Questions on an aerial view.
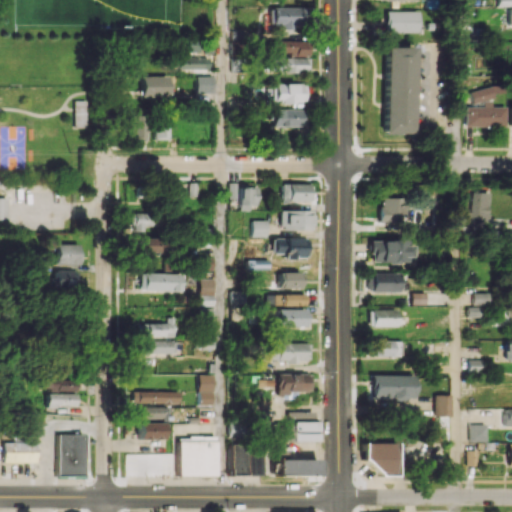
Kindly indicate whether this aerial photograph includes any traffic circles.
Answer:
No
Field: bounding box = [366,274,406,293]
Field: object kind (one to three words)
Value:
house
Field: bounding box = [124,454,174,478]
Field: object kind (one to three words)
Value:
building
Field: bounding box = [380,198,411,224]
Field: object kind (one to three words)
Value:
house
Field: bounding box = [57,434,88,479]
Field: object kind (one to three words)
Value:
building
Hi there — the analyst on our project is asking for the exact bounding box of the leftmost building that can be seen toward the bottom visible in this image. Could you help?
[4,442,41,465]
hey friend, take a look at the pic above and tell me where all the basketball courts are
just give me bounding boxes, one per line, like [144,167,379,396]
[0,125,27,173]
